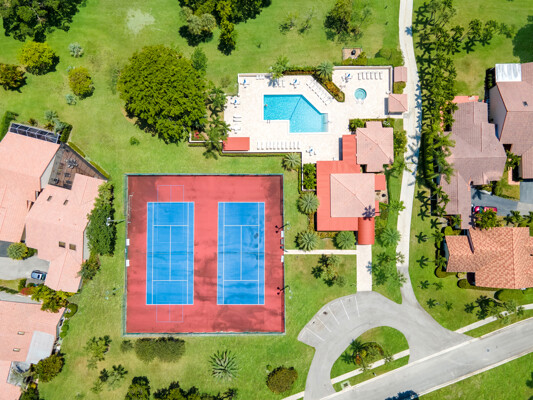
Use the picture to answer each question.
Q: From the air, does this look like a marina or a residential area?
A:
residential area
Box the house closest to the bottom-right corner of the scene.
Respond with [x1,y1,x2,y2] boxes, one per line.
[441,227,533,289]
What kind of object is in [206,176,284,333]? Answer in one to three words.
tennis court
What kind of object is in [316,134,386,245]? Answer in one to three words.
building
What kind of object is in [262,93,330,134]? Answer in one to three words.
swimming pool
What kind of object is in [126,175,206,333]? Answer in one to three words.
tennis court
